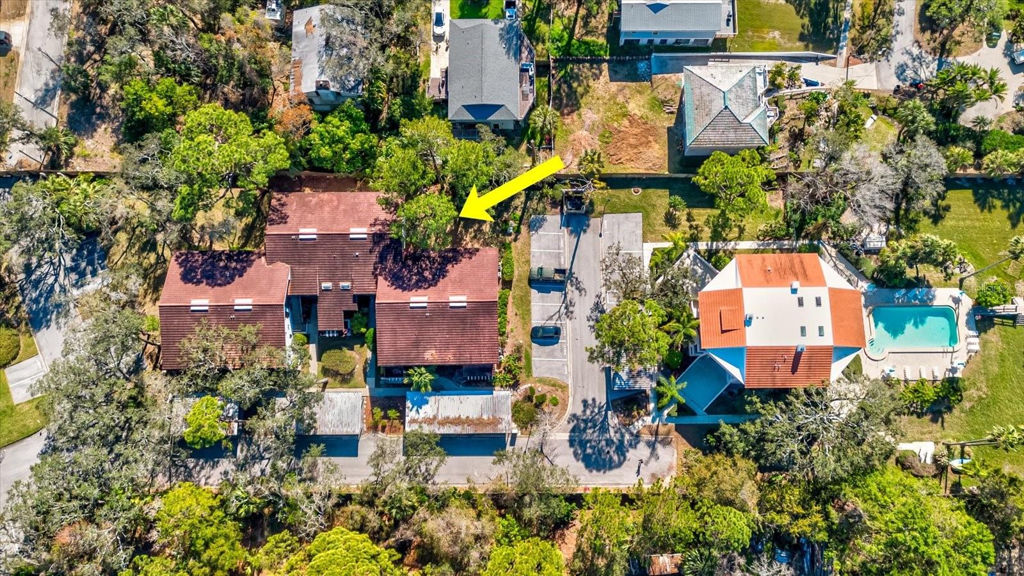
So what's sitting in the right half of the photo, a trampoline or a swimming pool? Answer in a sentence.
You can see a swimming pool in the right half of the photo.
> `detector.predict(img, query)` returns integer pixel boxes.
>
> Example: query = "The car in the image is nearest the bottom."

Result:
[530,326,561,341]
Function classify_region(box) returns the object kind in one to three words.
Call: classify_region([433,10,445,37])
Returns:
vehicle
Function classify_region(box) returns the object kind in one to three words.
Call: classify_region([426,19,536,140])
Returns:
house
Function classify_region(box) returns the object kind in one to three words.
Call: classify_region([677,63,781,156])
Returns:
house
